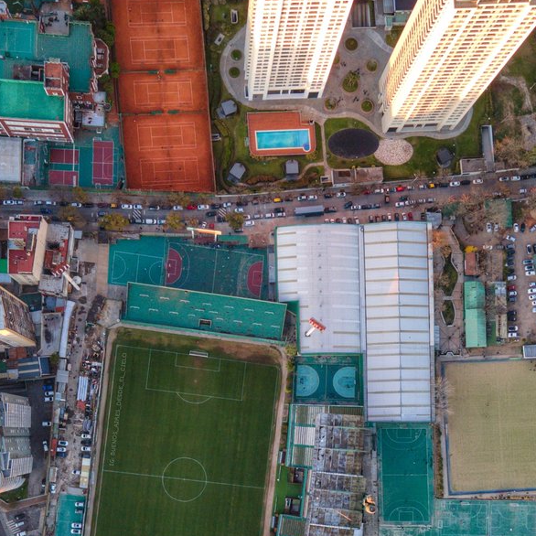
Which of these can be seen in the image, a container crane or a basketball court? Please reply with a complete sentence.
I can see a basketball court in this picture.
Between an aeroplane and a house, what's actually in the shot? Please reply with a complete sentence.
This aerial view contains a house.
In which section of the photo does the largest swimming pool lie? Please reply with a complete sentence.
The largest swimming pool sits in the top section of the image.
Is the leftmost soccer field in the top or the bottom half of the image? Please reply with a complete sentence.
Seen from above, the leftmost soccer field lies in the bottom half of the view.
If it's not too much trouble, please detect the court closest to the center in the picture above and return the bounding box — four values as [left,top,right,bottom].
[164,236,276,300]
